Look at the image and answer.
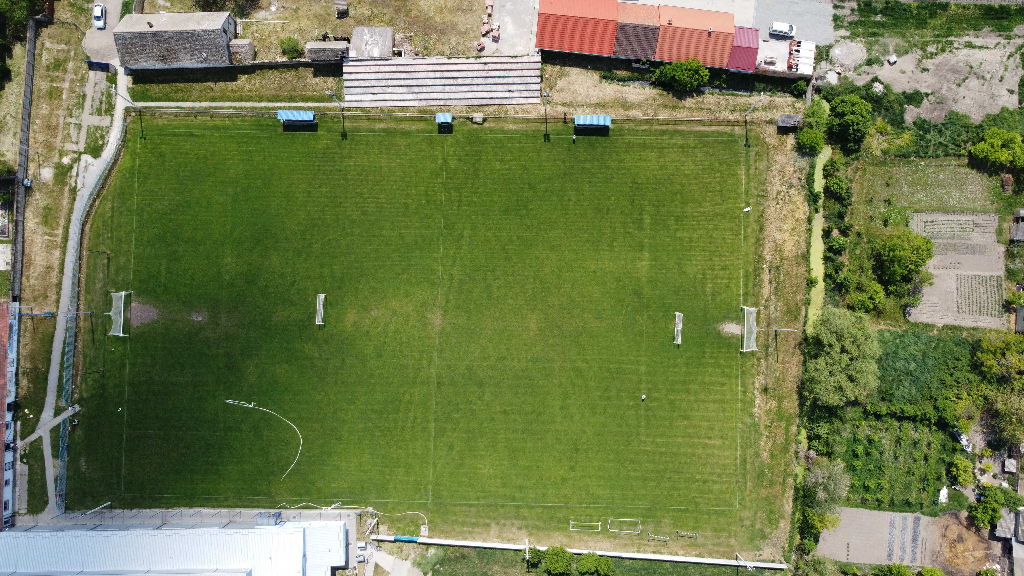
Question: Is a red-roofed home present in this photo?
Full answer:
Yes, there is a red-roofed home in the image.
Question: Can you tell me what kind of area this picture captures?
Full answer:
The picture captures a sports ground.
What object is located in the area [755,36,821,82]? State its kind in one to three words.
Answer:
building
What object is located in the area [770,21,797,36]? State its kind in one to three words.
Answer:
car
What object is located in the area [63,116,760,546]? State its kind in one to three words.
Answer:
soccer field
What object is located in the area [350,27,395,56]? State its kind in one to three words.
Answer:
shed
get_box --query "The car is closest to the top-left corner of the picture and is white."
[91,2,106,28]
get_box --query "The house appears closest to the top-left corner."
[113,11,234,69]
